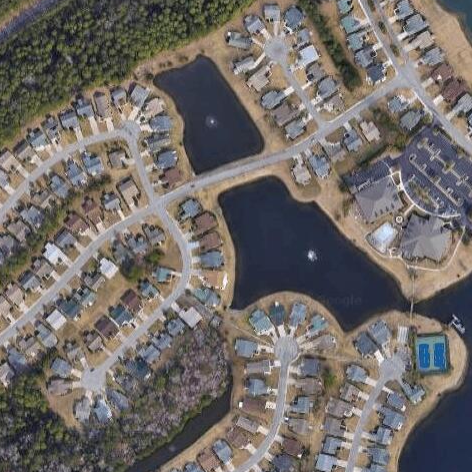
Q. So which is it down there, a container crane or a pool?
pool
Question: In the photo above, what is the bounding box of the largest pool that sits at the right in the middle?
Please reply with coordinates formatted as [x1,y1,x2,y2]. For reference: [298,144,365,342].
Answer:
[367,220,400,253]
